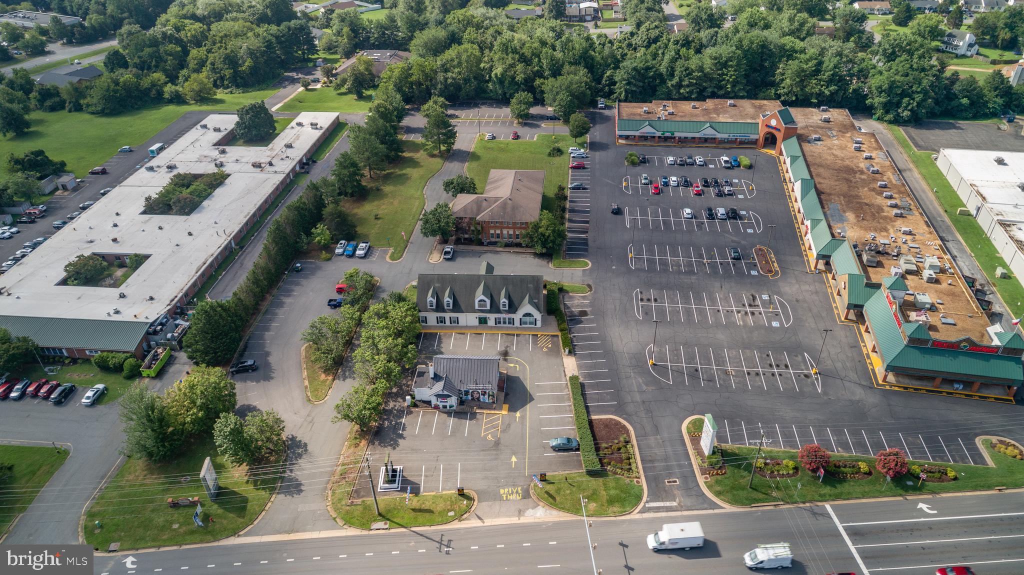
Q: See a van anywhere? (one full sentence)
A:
Yes, the image includes a van.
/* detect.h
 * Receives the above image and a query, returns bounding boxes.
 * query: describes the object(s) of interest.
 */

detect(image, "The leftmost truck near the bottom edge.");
[648,519,706,550]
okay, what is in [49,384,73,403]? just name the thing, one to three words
car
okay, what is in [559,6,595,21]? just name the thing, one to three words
house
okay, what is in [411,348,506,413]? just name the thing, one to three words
building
